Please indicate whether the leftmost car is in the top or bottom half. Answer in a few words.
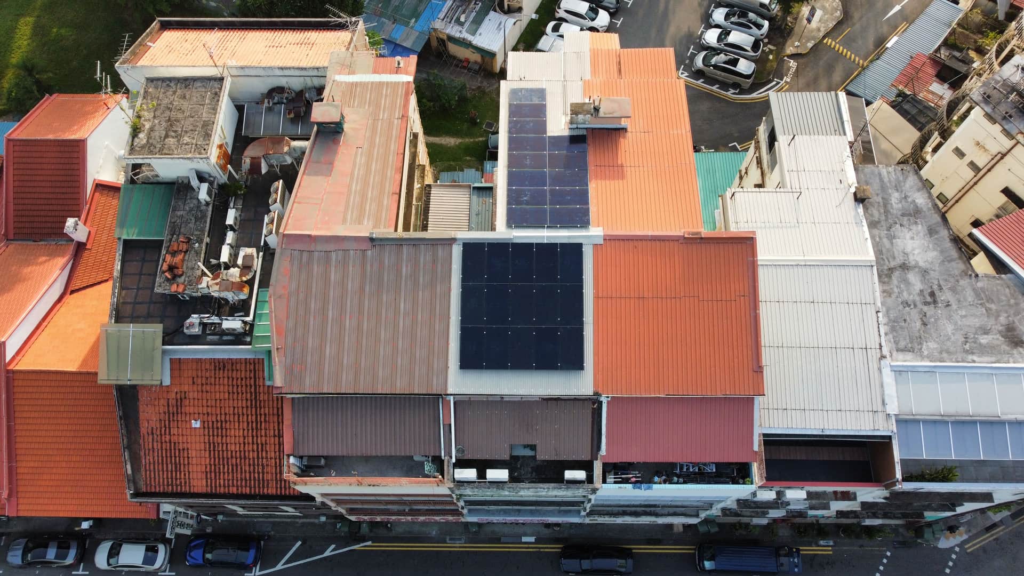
bottom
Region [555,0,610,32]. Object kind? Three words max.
car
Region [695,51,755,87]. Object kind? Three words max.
car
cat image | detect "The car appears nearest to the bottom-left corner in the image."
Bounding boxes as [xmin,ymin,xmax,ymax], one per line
[4,535,88,570]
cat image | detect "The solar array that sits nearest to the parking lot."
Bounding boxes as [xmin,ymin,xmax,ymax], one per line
[507,87,589,229]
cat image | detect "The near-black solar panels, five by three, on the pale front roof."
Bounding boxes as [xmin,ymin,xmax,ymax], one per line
[459,242,586,370]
